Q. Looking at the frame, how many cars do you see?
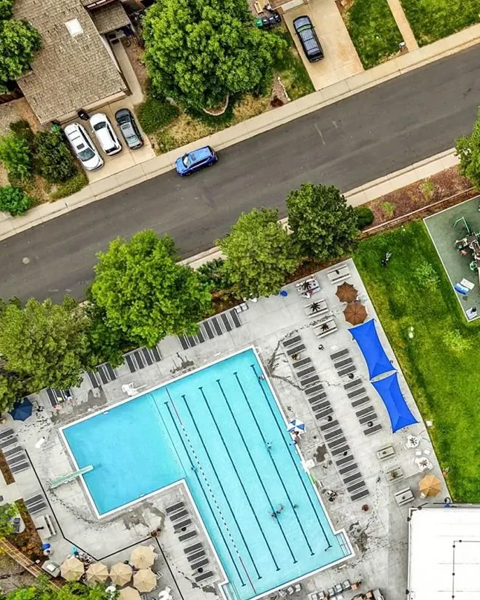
five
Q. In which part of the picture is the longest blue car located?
top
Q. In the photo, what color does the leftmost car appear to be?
white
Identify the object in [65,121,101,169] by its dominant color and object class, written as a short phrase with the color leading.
white car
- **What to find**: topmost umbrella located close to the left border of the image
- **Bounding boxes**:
[10,398,36,420]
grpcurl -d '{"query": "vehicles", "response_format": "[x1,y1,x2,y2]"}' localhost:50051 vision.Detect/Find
[91,113,121,154]
[65,121,101,169]
[294,14,323,63]
[175,146,220,174]
[116,108,144,151]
